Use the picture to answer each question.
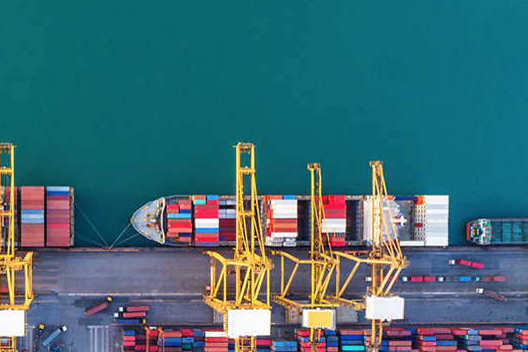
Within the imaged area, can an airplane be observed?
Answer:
No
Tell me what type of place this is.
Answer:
port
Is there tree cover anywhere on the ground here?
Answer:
No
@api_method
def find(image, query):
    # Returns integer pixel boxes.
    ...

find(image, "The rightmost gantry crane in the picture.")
[329,162,412,352]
